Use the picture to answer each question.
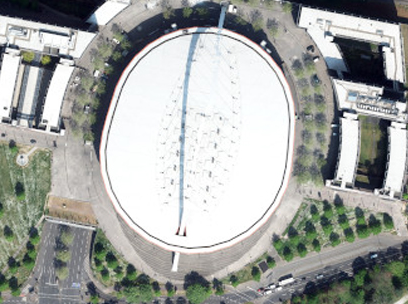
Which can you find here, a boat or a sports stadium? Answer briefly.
sports stadium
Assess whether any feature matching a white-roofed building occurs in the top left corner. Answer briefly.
Yes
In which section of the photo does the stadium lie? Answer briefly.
center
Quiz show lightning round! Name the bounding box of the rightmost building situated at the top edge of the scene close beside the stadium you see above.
[296,7,408,83]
